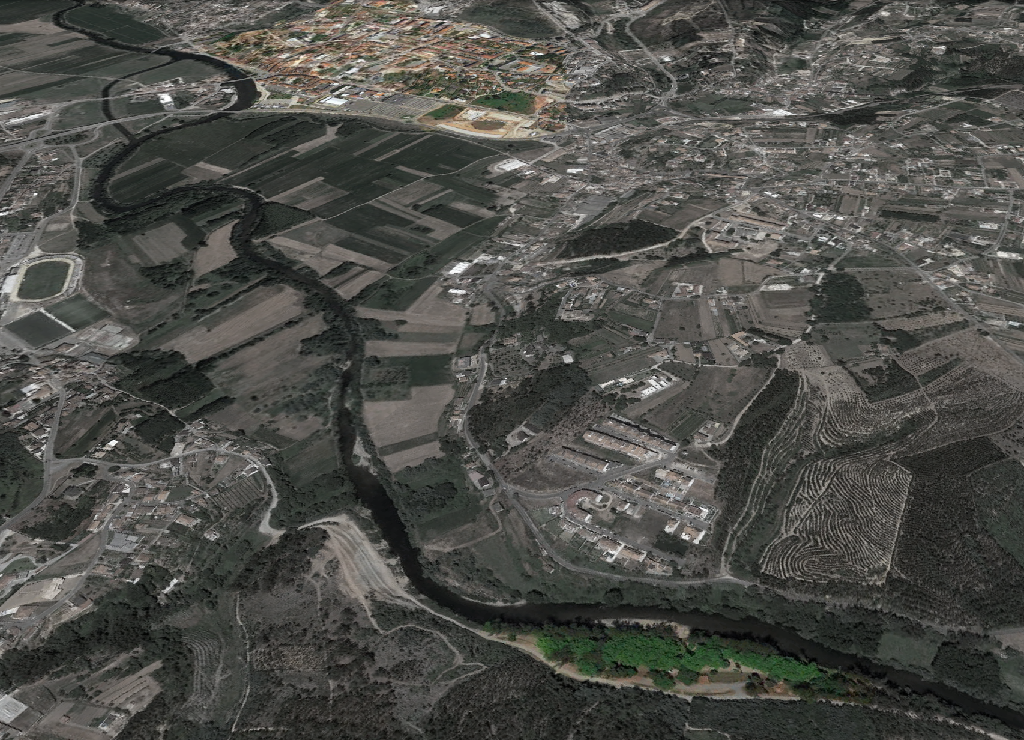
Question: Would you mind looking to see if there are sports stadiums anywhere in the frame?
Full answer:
Yes, the image includes a sports stadium.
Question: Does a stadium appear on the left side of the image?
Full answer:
Yes, I can see a stadium on the left side of the image.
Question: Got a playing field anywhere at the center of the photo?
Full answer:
No, no playing field is visible at the center of the photo.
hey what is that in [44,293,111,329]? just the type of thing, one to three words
sports field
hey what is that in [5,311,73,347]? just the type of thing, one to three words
sports field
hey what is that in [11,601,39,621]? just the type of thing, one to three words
house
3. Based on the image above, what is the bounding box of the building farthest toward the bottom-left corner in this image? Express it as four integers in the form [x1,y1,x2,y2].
[0,688,28,726]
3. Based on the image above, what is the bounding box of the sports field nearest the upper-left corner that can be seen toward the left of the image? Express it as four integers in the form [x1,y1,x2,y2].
[17,260,70,298]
